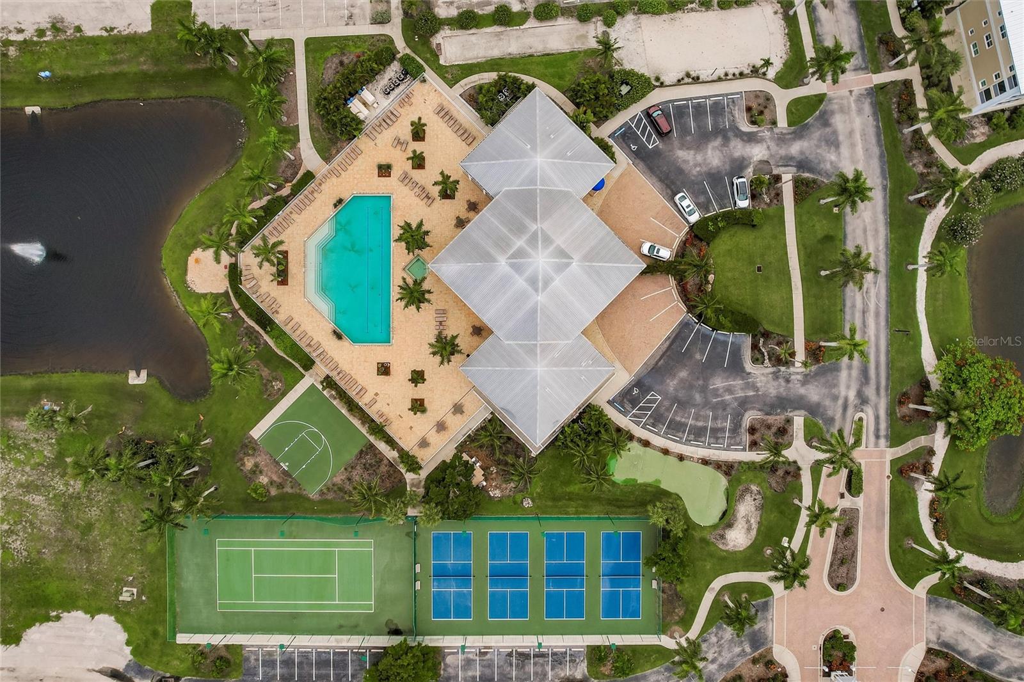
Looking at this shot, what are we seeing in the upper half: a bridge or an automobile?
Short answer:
automobile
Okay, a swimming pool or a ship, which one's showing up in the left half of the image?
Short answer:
swimming pool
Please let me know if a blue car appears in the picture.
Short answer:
No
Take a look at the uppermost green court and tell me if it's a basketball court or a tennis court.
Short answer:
basketball court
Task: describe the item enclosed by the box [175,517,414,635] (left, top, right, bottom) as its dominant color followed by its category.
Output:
green tennis court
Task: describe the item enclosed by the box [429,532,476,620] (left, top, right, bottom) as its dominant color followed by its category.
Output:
blue sports court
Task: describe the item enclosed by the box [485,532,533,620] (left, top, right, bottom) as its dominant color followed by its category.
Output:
blue sports court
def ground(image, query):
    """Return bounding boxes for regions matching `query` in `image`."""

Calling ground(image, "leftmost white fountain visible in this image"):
[12,242,49,259]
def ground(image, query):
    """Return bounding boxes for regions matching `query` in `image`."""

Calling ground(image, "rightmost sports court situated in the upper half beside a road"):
[611,0,789,86]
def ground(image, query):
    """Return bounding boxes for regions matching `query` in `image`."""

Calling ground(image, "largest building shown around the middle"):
[428,87,646,456]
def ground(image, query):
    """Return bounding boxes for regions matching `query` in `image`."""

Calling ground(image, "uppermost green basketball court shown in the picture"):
[258,385,370,495]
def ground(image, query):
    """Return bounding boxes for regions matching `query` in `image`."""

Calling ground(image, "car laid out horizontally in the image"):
[639,241,672,260]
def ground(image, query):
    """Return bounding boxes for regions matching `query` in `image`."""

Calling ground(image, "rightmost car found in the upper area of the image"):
[732,176,750,209]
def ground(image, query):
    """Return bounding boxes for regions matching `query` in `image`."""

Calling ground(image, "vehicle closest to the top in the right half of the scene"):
[647,105,671,137]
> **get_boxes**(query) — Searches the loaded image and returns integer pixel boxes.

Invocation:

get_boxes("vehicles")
[647,105,671,137]
[639,241,672,260]
[675,191,700,223]
[732,176,750,209]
